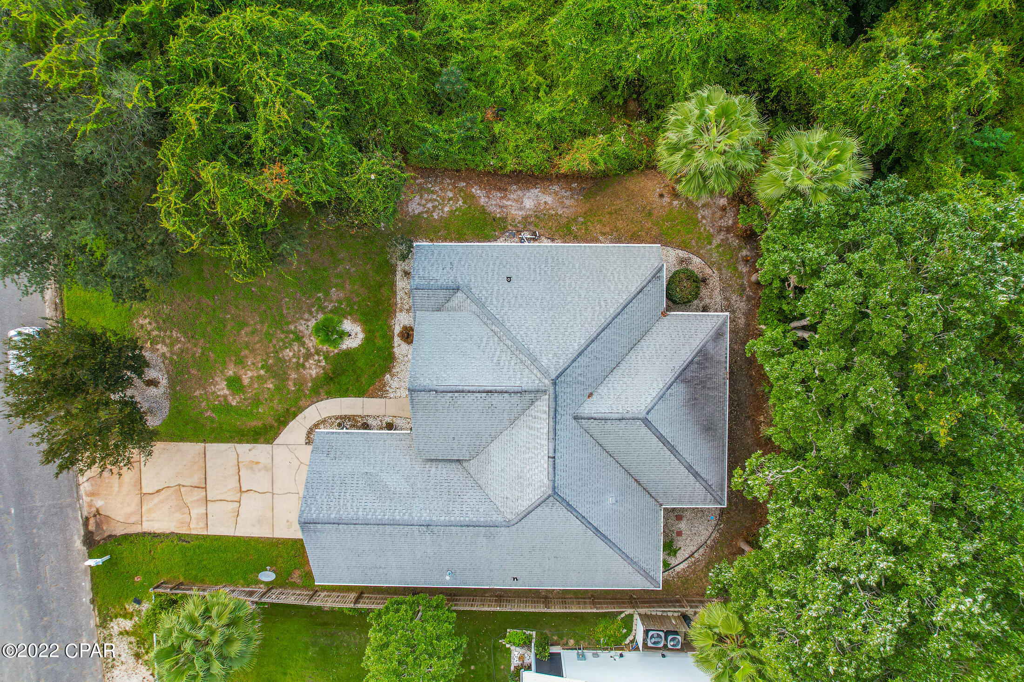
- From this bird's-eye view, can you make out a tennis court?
No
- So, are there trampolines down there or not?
No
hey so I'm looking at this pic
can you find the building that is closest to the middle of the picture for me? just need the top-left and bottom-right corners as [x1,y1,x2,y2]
[298,242,731,589]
